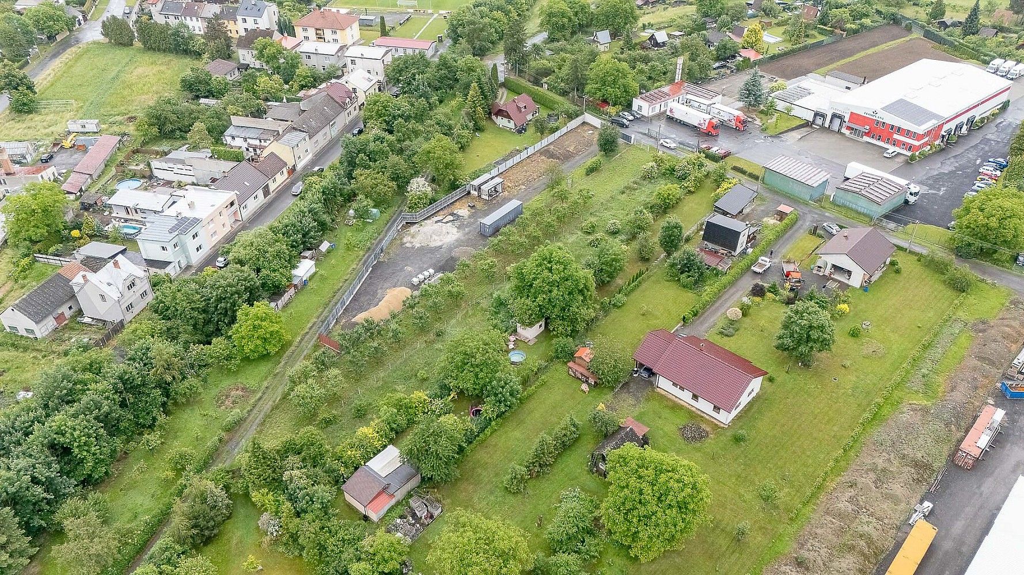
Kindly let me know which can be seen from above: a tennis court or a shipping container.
shipping container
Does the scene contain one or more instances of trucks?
Yes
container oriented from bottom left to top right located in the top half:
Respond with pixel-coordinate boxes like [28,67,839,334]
[479,200,524,236]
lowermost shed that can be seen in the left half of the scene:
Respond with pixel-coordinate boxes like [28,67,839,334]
[346,444,421,522]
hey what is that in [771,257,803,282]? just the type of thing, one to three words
truck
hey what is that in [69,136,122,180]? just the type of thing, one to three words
barn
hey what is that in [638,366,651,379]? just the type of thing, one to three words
vehicle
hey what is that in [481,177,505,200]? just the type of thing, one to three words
shed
